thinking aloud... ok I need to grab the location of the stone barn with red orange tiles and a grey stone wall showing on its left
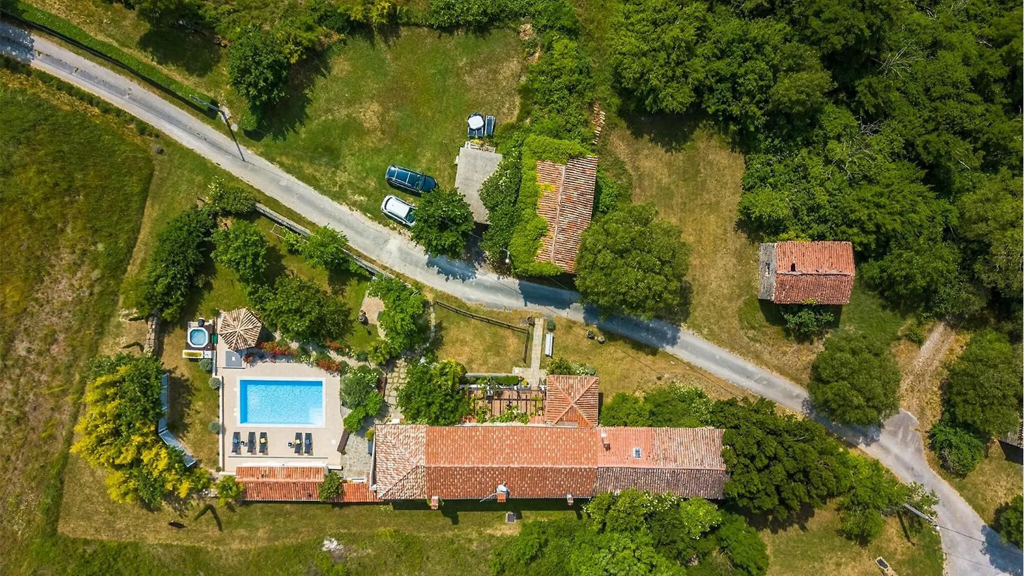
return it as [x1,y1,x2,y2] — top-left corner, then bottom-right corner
[760,241,857,306]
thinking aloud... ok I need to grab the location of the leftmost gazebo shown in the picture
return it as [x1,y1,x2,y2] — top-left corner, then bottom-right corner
[218,307,263,351]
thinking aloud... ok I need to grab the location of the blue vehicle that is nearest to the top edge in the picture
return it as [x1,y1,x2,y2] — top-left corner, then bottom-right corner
[384,165,438,194]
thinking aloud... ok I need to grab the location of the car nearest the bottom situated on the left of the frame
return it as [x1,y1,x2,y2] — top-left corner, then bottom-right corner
[380,197,422,230]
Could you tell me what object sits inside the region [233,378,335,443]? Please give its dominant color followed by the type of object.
blue swimming pool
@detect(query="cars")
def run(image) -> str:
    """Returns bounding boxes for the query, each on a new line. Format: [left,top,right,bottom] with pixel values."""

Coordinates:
[384,165,438,194]
[380,197,422,230]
